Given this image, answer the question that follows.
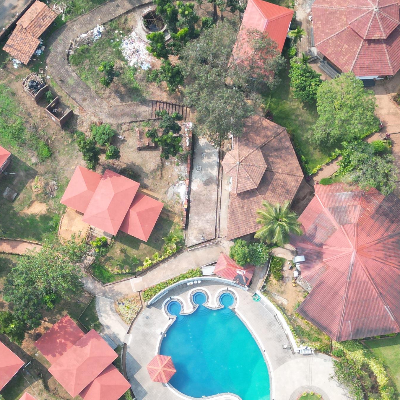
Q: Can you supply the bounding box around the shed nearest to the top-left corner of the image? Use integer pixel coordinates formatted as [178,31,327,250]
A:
[2,0,59,66]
